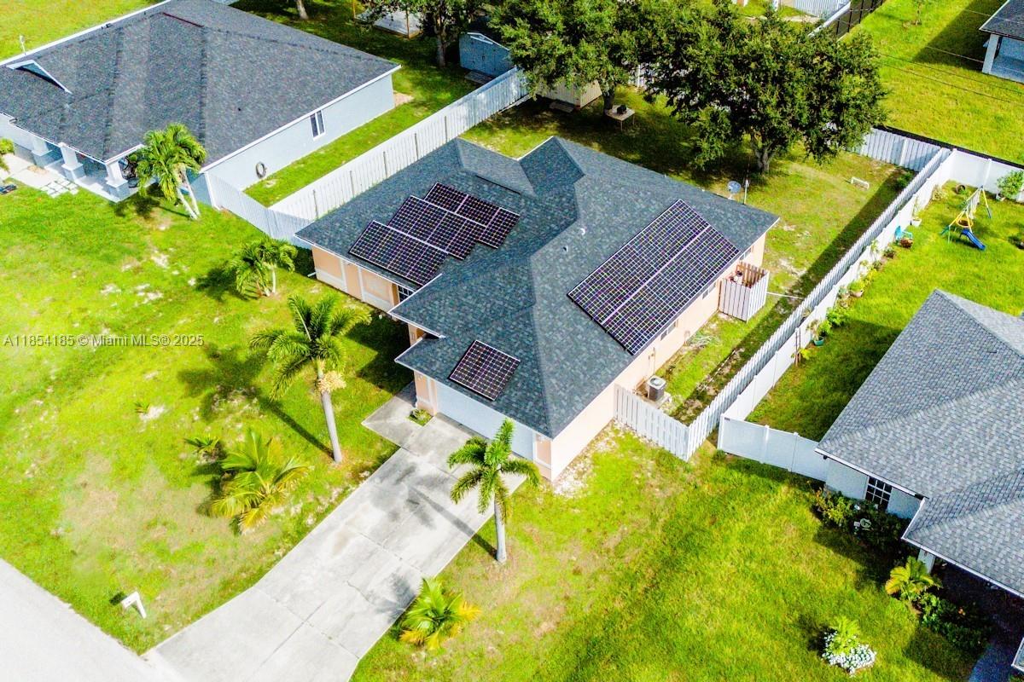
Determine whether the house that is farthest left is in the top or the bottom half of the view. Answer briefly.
top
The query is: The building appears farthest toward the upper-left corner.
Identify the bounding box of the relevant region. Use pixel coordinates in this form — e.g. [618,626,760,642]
[0,0,402,210]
